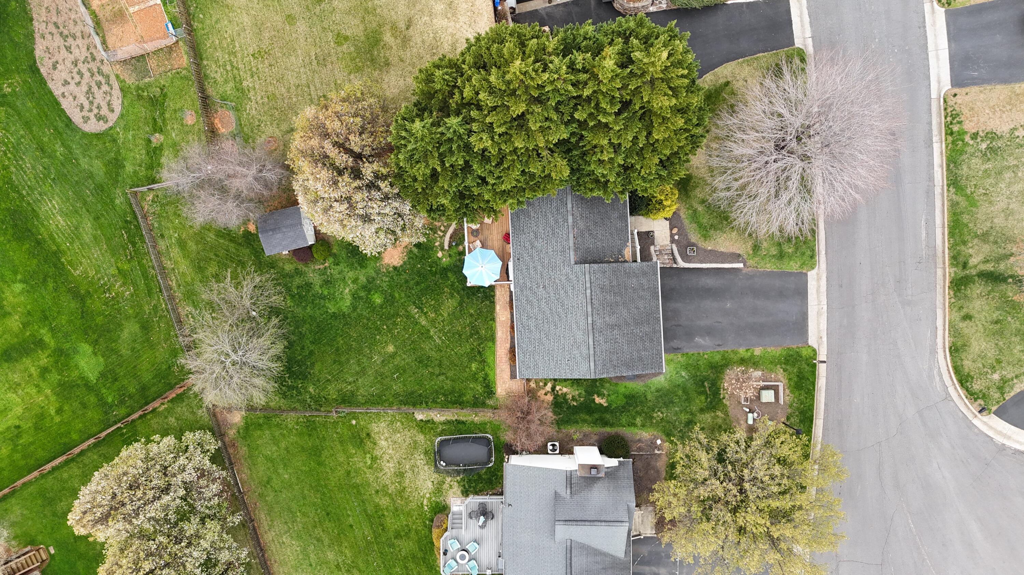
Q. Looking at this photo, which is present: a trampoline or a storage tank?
trampoline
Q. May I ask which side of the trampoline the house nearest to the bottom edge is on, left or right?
to the right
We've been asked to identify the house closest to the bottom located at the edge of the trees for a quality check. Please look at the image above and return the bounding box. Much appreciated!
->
[499,445,635,575]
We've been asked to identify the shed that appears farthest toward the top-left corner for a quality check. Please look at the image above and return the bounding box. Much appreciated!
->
[257,205,316,255]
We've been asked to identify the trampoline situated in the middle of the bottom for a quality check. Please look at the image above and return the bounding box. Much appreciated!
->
[434,433,494,478]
